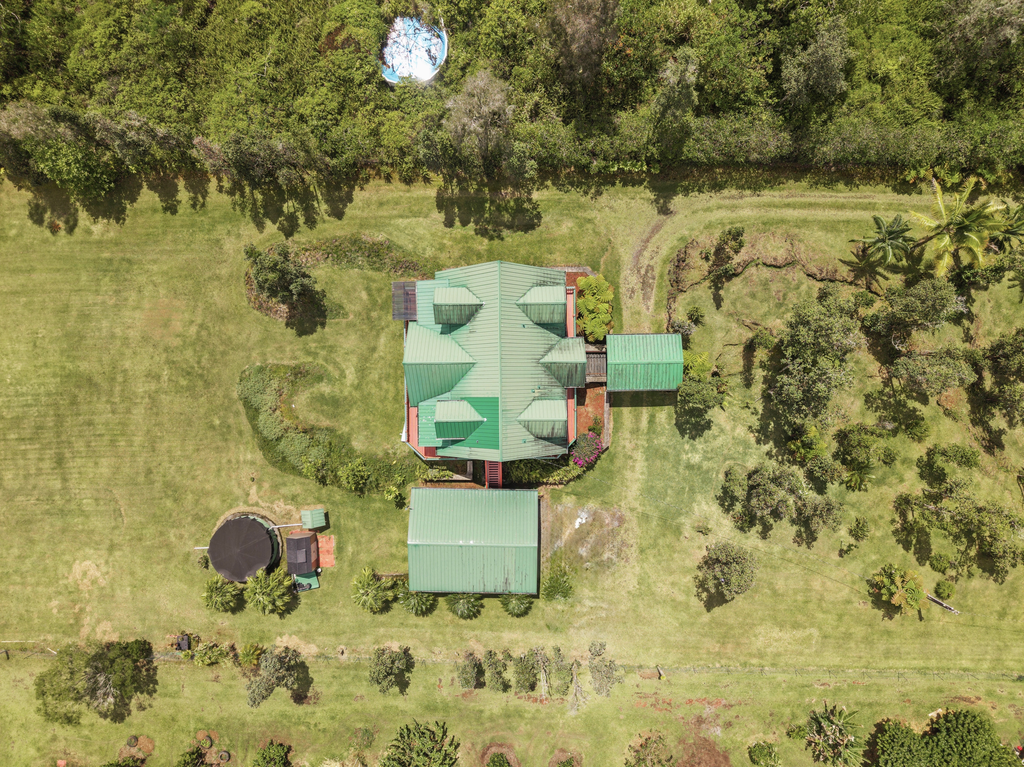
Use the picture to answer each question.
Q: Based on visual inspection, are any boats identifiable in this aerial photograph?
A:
No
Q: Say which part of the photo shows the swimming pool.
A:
top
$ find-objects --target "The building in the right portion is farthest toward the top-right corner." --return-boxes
[605,333,684,392]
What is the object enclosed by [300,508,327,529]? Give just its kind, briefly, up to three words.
shed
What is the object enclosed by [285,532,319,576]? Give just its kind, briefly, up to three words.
shed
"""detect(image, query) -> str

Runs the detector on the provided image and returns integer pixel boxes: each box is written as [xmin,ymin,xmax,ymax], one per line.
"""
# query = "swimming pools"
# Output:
[382,15,449,91]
